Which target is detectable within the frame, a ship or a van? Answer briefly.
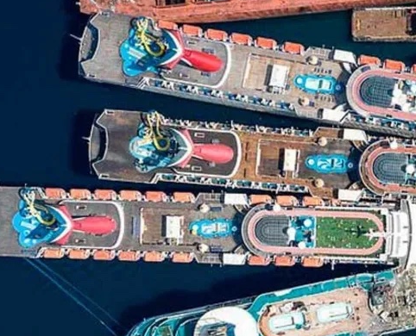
ship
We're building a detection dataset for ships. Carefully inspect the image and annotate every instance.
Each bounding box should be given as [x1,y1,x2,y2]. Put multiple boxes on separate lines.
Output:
[129,266,416,336]
[79,109,416,203]
[351,3,416,43]
[0,187,416,271]
[75,0,416,23]
[70,10,416,138]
